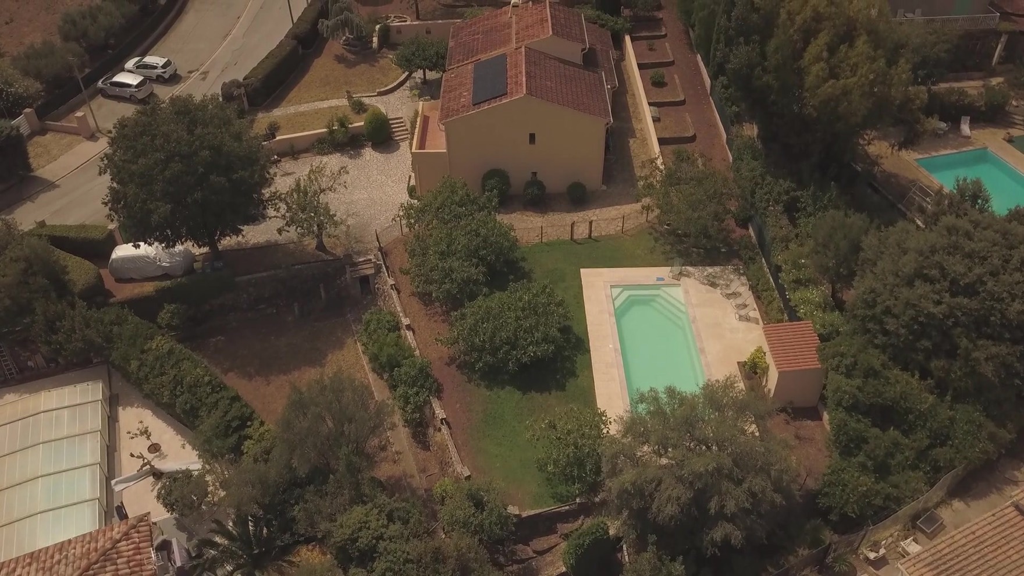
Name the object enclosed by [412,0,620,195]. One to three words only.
house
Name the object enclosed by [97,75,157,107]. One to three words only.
car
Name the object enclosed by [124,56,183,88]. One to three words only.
car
